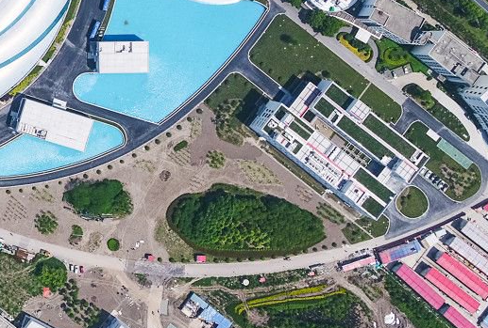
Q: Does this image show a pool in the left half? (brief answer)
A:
Yes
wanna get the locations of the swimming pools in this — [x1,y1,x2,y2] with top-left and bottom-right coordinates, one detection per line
[71,0,269,127]
[0,116,128,180]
